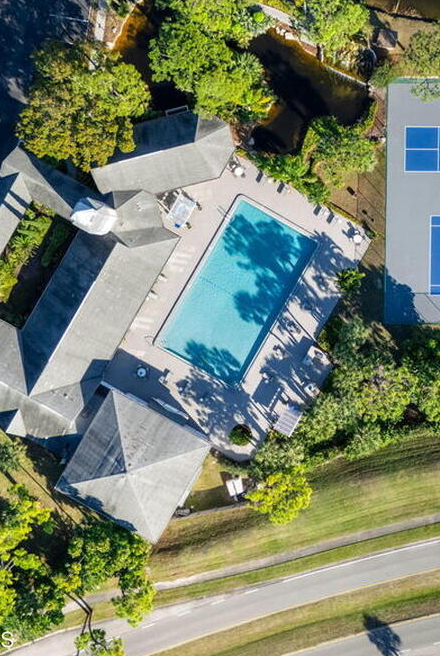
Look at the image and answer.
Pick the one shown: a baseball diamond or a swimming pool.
swimming pool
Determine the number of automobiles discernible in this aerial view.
0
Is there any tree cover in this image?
Yes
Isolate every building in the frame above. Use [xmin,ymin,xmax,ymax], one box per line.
[55,384,213,543]
[0,112,234,438]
